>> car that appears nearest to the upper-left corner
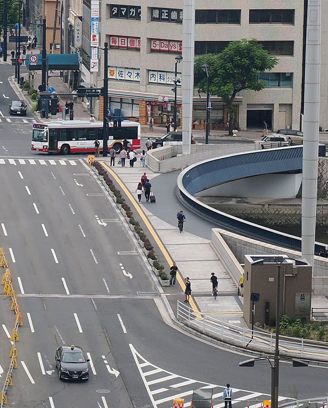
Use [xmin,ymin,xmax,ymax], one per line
[6,100,28,117]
